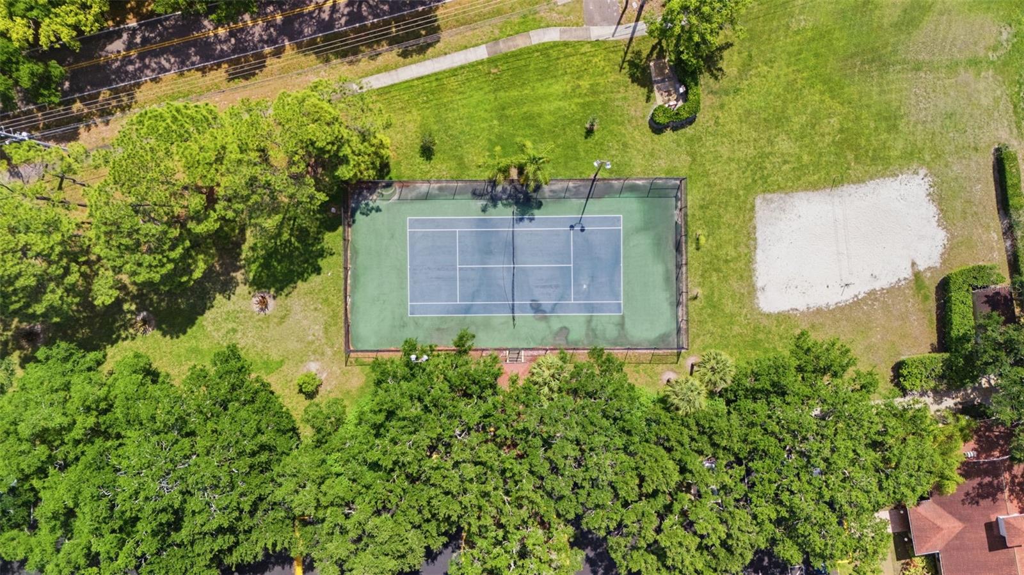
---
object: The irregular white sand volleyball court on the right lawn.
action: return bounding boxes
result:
[753,170,950,313]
